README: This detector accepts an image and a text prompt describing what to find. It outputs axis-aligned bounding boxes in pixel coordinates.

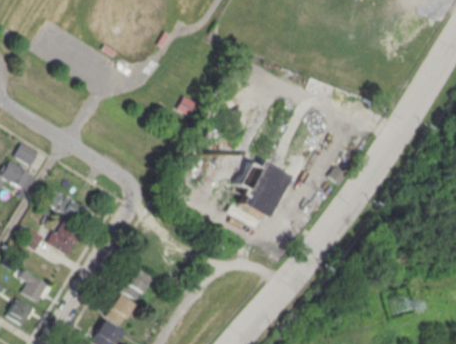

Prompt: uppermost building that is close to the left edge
[12,142,38,164]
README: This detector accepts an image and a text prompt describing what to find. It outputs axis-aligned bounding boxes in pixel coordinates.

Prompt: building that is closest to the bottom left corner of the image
[4,296,32,325]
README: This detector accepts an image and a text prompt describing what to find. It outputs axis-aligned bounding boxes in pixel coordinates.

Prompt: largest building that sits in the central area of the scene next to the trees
[242,162,292,216]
